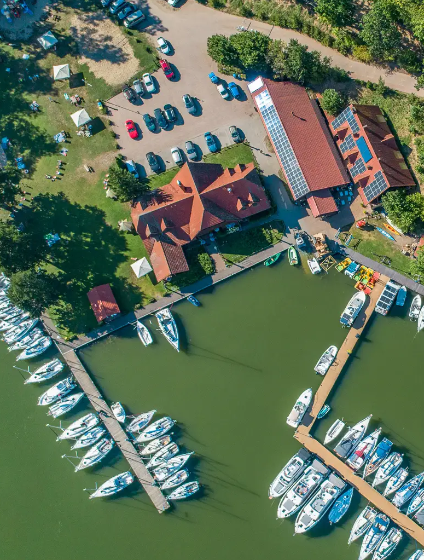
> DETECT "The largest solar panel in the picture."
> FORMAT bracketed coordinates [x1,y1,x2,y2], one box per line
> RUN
[255,90,309,198]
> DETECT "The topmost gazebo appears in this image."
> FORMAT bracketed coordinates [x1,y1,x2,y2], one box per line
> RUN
[38,32,61,53]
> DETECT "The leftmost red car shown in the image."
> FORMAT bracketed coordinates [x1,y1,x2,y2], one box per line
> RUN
[126,120,139,141]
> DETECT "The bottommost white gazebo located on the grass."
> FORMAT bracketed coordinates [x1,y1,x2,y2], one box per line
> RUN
[131,257,153,281]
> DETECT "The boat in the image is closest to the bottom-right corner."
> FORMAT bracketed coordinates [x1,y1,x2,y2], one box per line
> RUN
[407,546,424,560]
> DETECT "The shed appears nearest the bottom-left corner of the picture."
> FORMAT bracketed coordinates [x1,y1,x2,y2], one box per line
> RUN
[87,284,120,322]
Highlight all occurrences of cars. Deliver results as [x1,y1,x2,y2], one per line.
[166,0,180,7]
[126,120,139,141]
[143,114,157,133]
[155,36,172,56]
[230,125,241,144]
[153,108,169,130]
[227,81,241,101]
[143,73,157,94]
[161,58,177,81]
[185,141,198,161]
[124,159,141,176]
[133,80,146,98]
[203,132,218,154]
[164,105,177,123]
[123,85,138,104]
[123,9,147,29]
[216,84,229,101]
[109,0,128,14]
[117,5,138,22]
[147,152,161,173]
[171,147,185,166]
[182,94,197,116]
